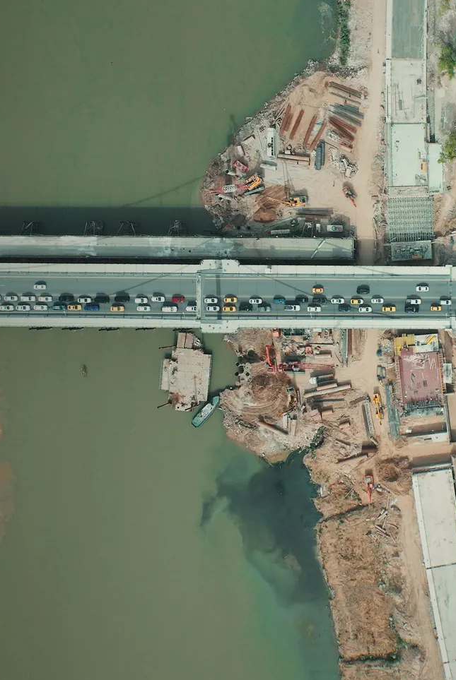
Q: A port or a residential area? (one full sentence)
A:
This looks like a port.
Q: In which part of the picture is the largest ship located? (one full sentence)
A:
The largest ship sits in the center section of the image.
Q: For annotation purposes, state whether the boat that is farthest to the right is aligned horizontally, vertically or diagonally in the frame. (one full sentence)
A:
Seen from above, the boat that is farthest to the right lies diagonally.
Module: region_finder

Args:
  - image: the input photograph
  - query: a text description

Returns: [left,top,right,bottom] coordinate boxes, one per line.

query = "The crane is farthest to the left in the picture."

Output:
[206,173,265,194]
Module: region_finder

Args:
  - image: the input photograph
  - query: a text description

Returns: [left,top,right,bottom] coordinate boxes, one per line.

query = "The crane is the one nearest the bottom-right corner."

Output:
[273,360,337,374]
